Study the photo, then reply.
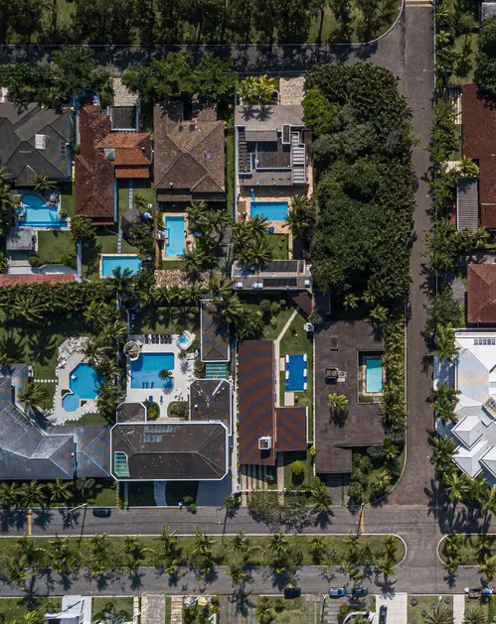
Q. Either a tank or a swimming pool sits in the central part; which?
swimming pool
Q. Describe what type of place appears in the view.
residential area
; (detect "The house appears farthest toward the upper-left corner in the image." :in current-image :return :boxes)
[0,101,75,186]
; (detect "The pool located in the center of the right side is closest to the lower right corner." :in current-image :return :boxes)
[363,355,385,397]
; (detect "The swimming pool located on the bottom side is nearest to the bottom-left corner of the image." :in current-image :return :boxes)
[61,394,81,413]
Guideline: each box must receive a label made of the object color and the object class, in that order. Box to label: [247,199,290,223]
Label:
blue swimming pool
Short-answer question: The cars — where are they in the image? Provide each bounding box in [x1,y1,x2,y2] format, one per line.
[479,587,495,595]
[378,607,387,624]
[352,587,369,595]
[92,507,110,515]
[283,588,301,597]
[328,587,346,595]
